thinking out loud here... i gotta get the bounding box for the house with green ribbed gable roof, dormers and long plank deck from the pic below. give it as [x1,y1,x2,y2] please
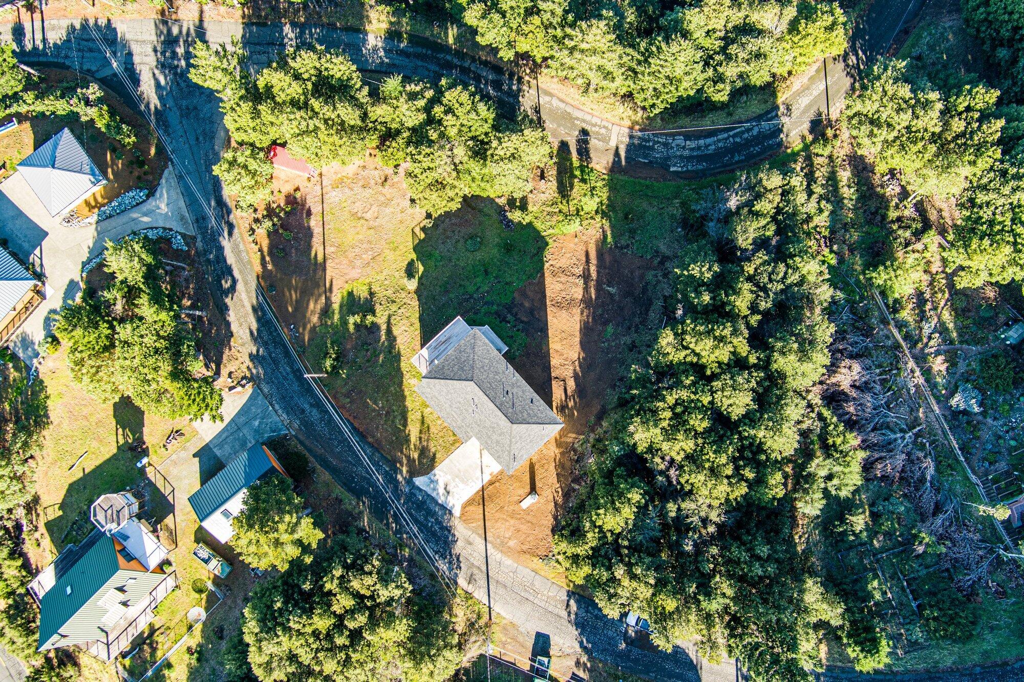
[27,512,198,666]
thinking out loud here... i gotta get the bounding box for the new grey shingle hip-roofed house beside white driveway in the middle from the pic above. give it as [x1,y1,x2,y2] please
[404,311,565,474]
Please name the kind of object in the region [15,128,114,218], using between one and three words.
building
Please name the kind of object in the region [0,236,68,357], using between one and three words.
house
